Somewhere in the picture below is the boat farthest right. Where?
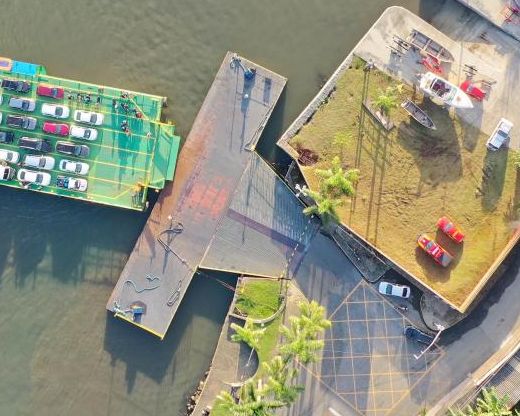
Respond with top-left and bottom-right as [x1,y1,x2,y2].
[458,80,486,101]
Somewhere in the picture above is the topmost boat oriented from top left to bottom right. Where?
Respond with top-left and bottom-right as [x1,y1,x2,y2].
[407,29,453,62]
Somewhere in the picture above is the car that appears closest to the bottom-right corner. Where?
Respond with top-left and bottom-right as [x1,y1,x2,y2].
[400,324,432,344]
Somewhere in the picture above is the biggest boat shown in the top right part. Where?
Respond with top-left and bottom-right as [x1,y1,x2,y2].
[414,73,474,110]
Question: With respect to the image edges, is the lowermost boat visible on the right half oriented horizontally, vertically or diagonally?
diagonally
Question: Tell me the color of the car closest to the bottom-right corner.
blue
